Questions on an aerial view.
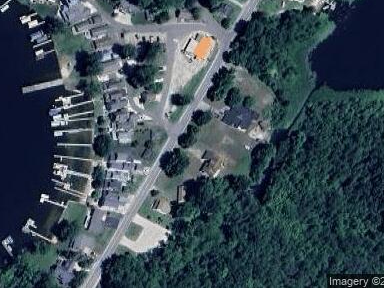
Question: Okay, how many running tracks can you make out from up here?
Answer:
0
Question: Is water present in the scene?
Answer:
Yes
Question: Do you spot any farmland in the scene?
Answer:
No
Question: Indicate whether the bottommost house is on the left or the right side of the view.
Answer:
left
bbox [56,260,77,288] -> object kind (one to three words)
house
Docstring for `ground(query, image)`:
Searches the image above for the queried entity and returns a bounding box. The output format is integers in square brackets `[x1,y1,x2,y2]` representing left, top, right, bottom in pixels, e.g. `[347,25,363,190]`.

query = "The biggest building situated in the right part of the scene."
[224,106,260,130]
